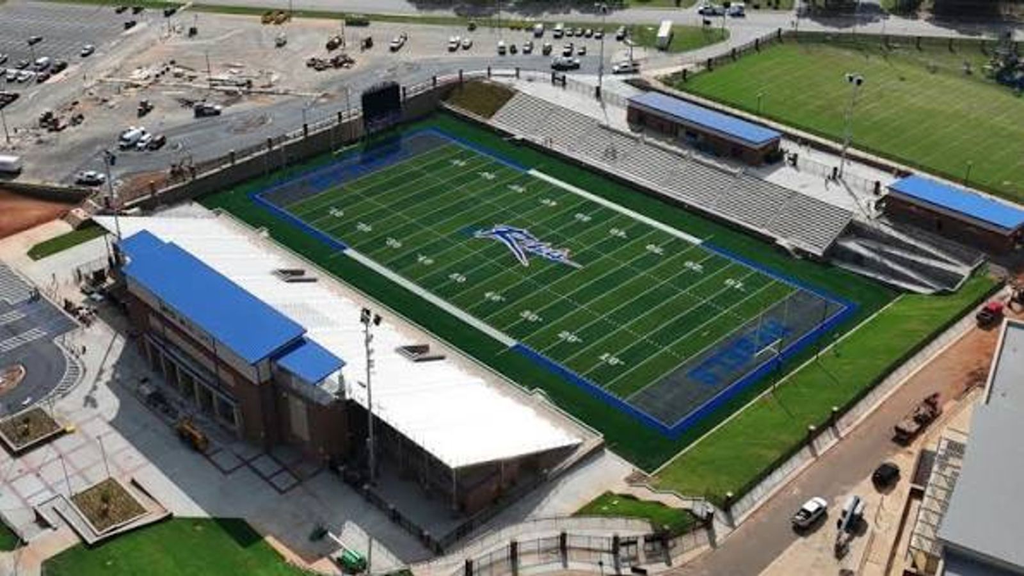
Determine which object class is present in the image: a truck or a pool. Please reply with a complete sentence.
Of the two, only a truck appears.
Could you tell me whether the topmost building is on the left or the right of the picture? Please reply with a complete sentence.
It is on the right.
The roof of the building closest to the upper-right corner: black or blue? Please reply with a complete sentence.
The roof of the building closest to the upper-right corner looks blue in the image.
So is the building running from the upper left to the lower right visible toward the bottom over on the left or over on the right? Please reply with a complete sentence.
The building running from the upper left to the lower right visible toward the bottom appears in the left half of the scene.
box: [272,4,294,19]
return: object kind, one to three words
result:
work vehicle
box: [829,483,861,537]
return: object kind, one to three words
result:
truck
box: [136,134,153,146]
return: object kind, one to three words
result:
vehicle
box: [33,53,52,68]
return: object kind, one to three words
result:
vehicle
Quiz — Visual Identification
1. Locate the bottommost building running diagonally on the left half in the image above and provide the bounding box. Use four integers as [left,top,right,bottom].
[114,232,368,469]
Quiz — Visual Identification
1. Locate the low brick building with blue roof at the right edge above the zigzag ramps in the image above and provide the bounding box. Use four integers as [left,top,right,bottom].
[892,167,1024,251]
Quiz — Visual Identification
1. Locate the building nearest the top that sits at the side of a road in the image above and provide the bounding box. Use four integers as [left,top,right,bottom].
[630,85,785,160]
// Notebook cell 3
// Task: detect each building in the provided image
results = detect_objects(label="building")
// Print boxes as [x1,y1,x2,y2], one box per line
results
[630,85,785,160]
[114,232,368,469]
[929,314,1024,576]
[892,167,1024,251]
